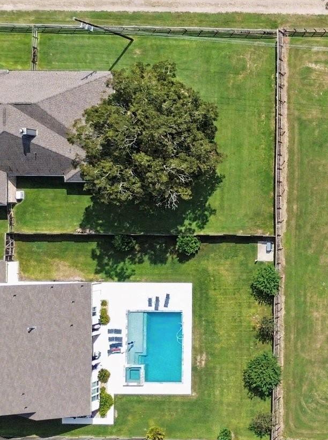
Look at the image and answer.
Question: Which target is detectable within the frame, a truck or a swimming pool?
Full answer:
The one in the frame is a swimming pool.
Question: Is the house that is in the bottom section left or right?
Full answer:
The house that is in the bottom section is on the left side of the image.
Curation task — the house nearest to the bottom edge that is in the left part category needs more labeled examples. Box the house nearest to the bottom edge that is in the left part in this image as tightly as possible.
[0,282,102,421]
